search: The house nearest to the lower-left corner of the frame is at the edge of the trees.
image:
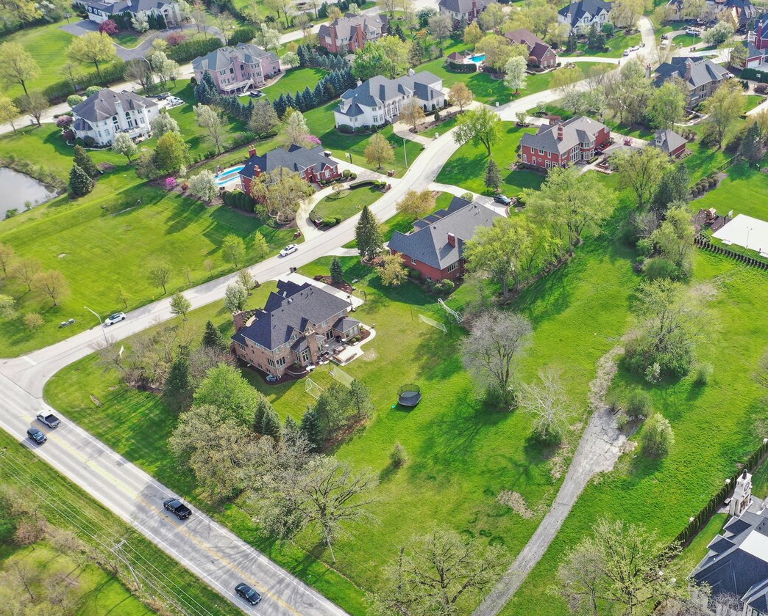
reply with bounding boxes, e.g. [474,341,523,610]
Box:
[230,278,361,378]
